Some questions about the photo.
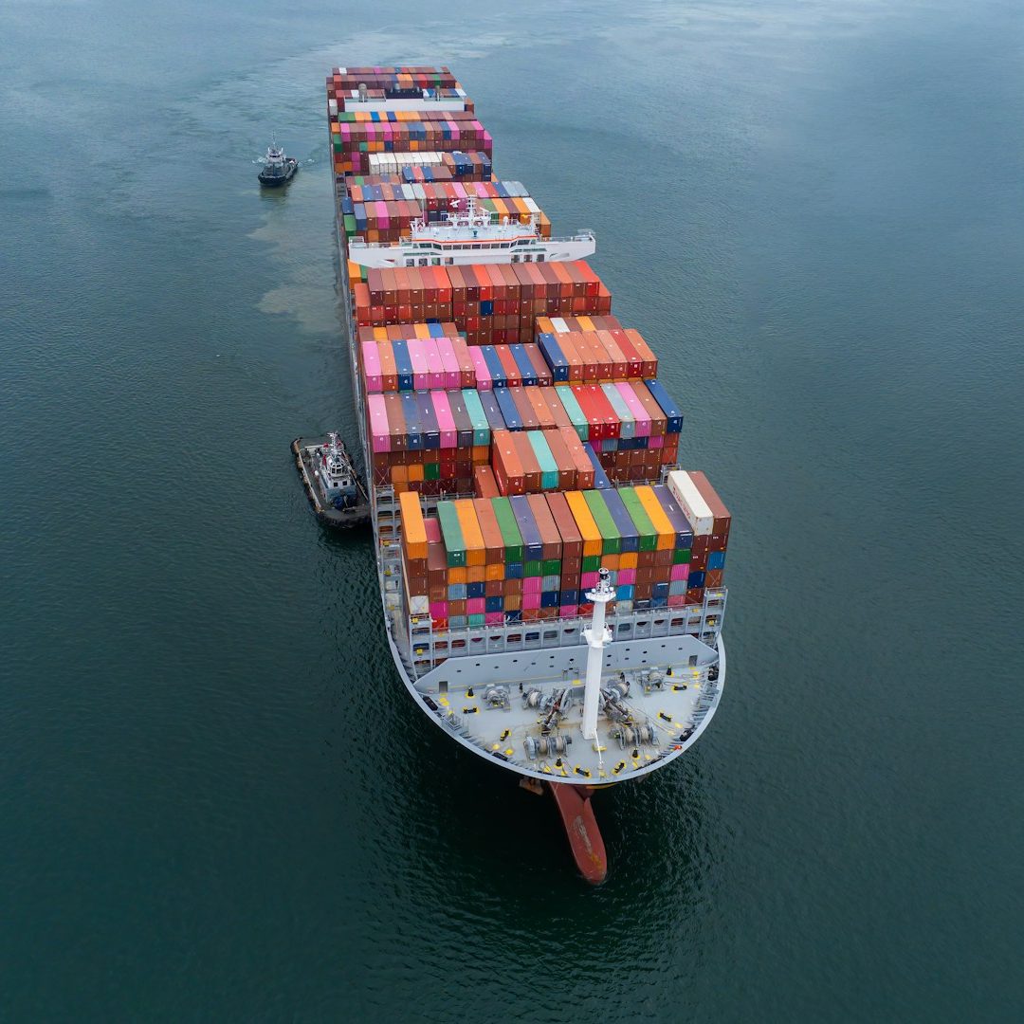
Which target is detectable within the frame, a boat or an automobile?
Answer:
boat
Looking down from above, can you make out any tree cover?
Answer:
No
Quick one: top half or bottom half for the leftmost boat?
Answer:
top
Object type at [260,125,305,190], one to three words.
boat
